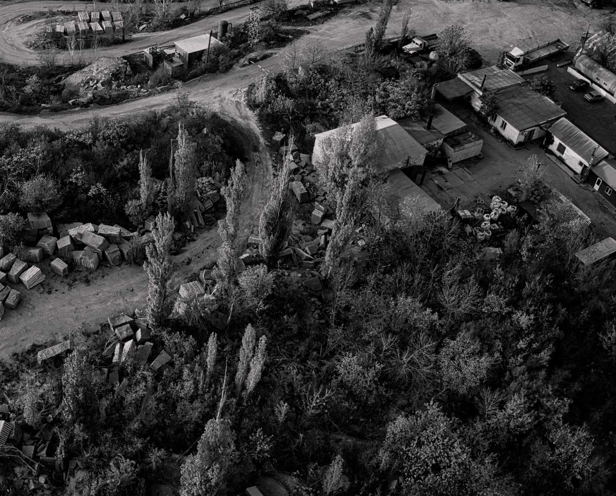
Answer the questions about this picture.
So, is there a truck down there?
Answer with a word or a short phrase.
Yes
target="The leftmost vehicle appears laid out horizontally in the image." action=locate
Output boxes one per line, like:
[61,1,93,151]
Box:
[403,28,450,52]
